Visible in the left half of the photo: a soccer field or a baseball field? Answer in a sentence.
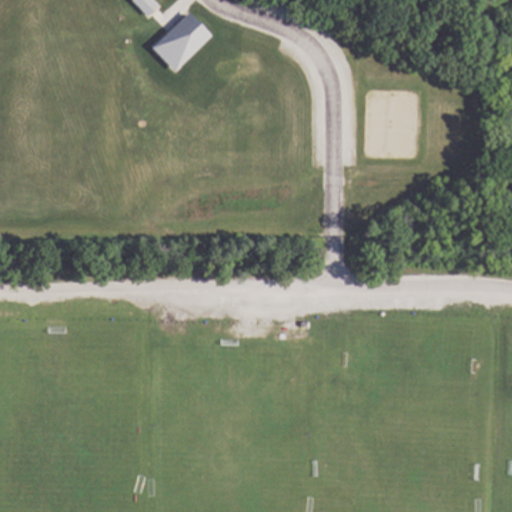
Looking in the left half of the photo, you will find a soccer field.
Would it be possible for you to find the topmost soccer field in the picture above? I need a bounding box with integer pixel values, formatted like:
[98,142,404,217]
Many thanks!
[343,322,476,412]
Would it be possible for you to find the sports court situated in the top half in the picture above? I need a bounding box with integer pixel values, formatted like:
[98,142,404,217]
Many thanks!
[364,90,419,158]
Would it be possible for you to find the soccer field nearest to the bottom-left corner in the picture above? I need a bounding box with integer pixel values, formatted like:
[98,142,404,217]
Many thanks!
[0,326,138,512]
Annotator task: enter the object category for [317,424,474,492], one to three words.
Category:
soccer field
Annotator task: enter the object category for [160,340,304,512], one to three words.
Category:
soccer field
